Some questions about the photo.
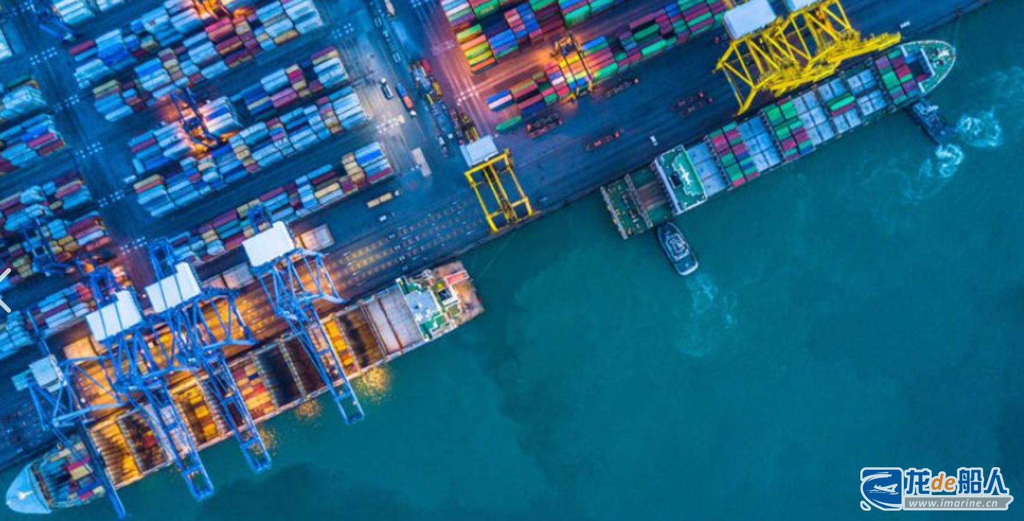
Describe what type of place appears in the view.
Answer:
port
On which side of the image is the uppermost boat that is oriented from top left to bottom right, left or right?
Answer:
right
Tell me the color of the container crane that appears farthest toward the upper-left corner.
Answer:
blue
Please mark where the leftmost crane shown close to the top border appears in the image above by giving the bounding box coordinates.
[26,0,93,49]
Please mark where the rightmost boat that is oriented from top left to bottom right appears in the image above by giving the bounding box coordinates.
[907,105,951,152]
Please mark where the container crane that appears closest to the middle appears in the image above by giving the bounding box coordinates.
[451,99,541,232]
